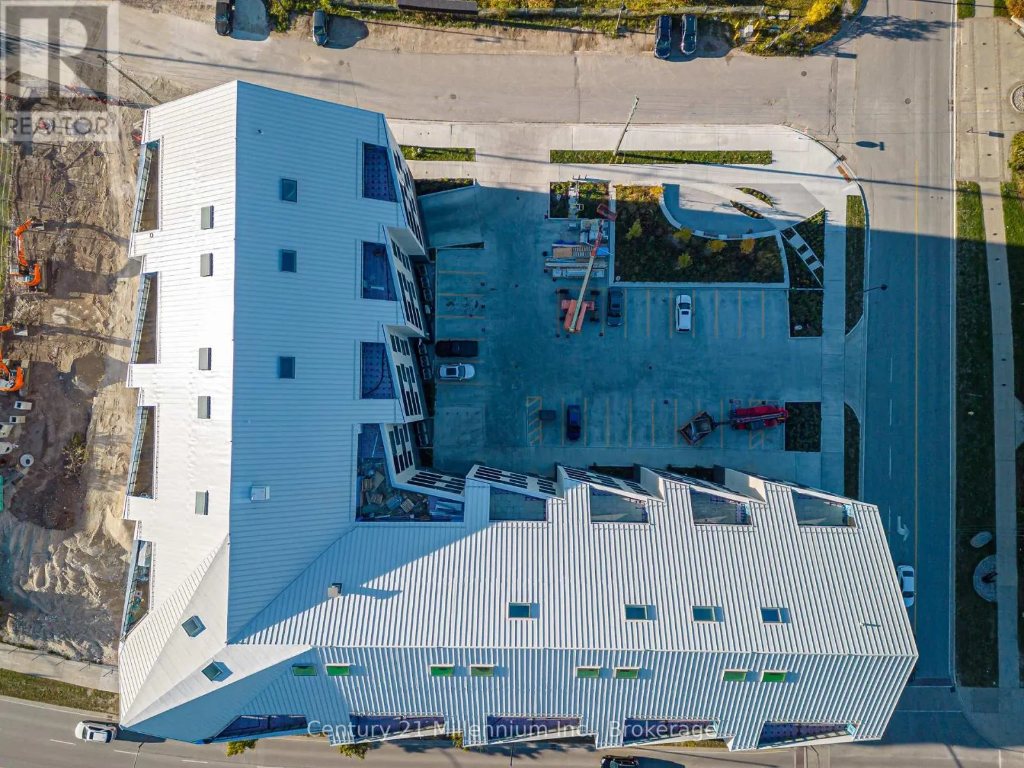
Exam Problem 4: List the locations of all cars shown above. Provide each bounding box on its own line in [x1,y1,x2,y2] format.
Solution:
[679,14,699,56]
[310,9,329,49]
[565,404,583,440]
[438,363,475,381]
[653,15,673,60]
[674,294,693,333]
[896,564,916,605]
[435,339,480,358]
[605,288,624,327]
[213,0,235,37]
[76,719,120,742]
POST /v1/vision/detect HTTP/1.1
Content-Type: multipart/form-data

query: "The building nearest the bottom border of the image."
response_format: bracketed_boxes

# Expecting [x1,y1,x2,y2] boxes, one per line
[118,79,920,751]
